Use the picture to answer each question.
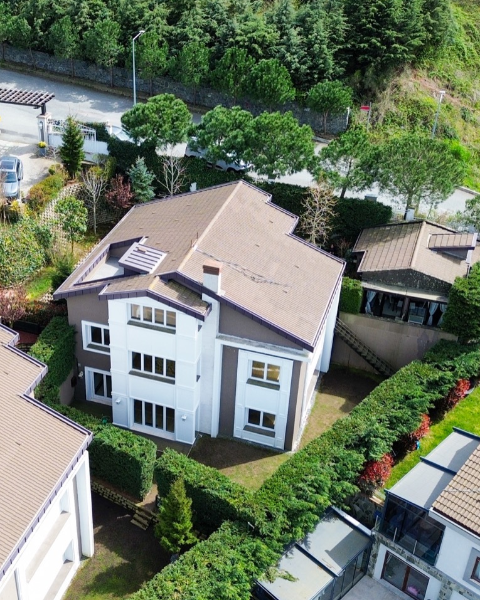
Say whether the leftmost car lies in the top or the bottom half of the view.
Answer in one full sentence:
Seen from above, the leftmost car lies in the top half of the view.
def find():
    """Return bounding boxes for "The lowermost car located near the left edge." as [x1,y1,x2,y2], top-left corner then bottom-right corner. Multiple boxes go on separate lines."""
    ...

[0,157,25,196]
